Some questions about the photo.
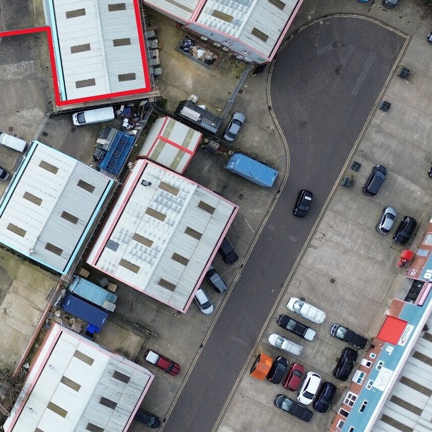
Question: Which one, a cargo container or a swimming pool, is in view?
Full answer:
Looking from above, you can make out a cargo container.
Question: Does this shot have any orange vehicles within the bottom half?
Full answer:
Yes, an orange vehicle can be seen within the bottom half.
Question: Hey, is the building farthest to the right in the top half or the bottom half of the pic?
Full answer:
The building farthest to the right is in the bottom half of the image.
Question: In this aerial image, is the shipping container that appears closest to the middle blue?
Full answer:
Yes, the shipping container that appears closest to the middle is blue.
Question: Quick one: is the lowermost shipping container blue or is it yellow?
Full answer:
The color of the lowermost shipping container is blue.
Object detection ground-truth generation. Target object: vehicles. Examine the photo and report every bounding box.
[194,286,214,316]
[223,111,245,144]
[282,360,305,394]
[290,188,315,218]
[313,379,339,413]
[266,354,287,385]
[274,314,320,344]
[142,346,182,376]
[361,164,387,198]
[264,332,307,359]
[134,406,162,430]
[70,105,118,127]
[0,127,28,154]
[392,214,420,246]
[327,323,370,354]
[334,346,357,381]
[0,166,11,183]
[248,352,273,380]
[374,205,398,236]
[220,236,240,264]
[271,392,317,427]
[382,0,401,10]
[205,264,230,295]
[284,296,329,327]
[296,369,324,406]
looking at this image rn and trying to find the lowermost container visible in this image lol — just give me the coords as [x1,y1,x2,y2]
[61,291,109,329]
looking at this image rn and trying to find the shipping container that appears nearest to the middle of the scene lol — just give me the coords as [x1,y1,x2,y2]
[226,153,278,187]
